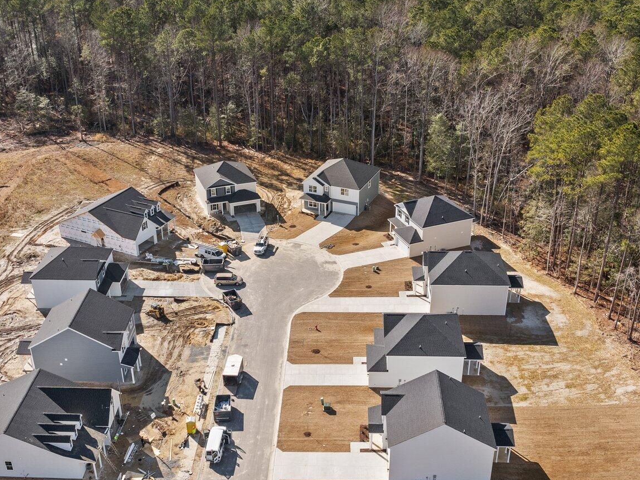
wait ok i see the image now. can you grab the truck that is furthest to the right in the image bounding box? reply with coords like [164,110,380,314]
[250,229,272,251]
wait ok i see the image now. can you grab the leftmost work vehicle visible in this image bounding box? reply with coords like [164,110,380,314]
[142,303,167,322]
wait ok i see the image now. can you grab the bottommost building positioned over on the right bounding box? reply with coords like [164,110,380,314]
[369,368,517,480]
